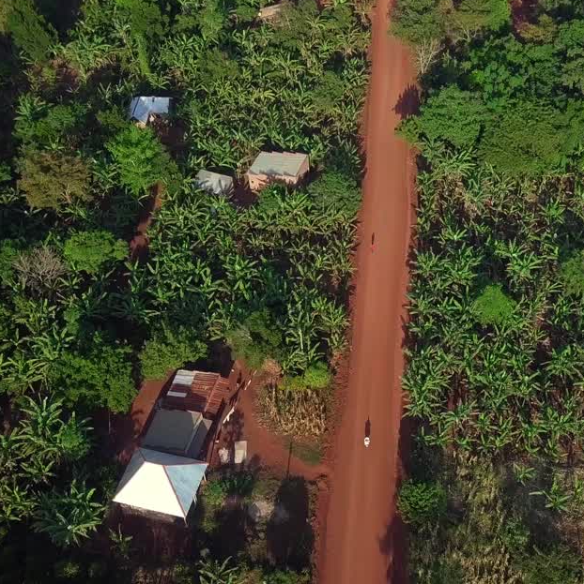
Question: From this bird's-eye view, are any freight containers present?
No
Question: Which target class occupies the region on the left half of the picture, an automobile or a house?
house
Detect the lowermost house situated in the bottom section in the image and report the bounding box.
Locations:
[113,447,210,529]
